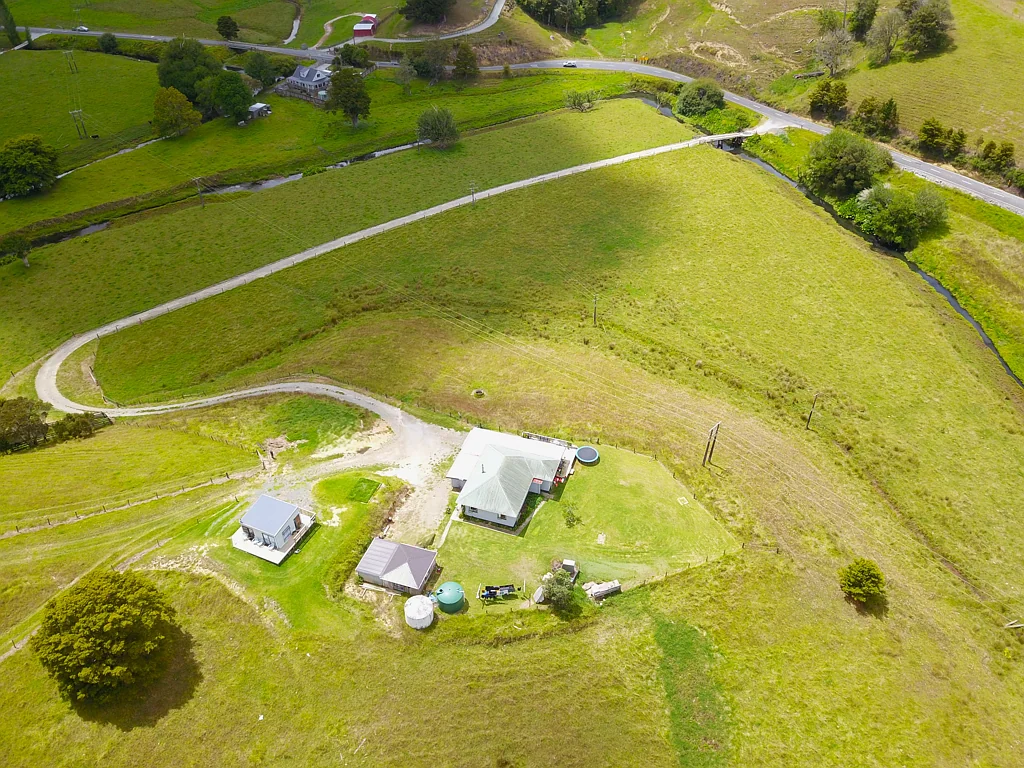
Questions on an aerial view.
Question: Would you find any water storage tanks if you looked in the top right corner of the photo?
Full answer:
No, no water storage tank can be made out in the top right corner of the photo.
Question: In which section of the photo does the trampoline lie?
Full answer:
The trampoline is located in the center region of the scene.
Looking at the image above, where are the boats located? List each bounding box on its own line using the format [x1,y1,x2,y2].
[532,590,544,605]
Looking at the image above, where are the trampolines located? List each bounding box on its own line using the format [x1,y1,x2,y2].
[575,446,599,466]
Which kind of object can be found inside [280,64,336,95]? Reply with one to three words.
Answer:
house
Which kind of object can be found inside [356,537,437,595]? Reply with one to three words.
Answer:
building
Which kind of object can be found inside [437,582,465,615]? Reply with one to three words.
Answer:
water tank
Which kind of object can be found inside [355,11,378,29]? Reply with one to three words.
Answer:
barn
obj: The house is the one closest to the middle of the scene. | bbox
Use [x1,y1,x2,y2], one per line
[447,428,566,526]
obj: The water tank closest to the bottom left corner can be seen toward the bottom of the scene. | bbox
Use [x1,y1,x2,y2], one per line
[404,594,435,631]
